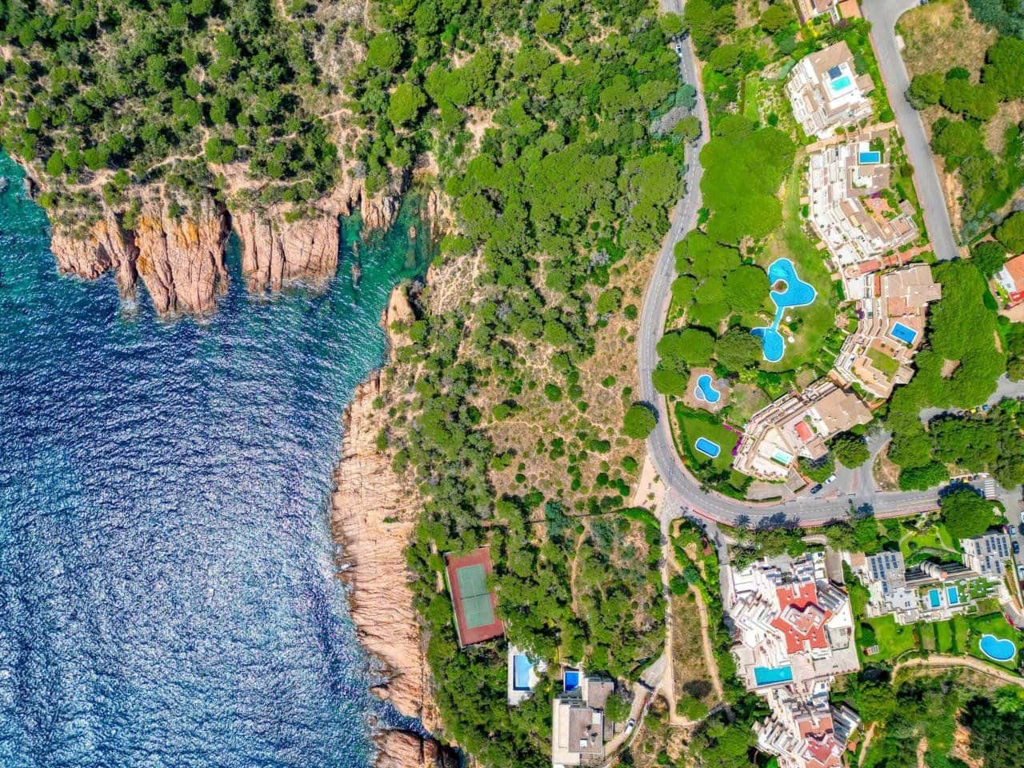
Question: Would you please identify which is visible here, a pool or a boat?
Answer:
pool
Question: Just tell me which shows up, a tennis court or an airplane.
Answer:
tennis court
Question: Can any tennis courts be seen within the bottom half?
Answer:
Yes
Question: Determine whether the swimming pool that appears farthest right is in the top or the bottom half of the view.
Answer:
bottom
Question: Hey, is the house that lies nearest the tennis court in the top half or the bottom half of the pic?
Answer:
bottom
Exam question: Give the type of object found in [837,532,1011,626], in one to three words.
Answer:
building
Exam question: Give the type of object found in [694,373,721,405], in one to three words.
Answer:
swimming pool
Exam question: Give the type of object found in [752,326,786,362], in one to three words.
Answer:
swimming pool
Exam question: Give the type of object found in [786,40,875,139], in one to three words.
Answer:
house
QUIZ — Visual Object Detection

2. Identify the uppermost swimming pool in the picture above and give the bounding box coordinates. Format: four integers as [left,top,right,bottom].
[830,74,852,92]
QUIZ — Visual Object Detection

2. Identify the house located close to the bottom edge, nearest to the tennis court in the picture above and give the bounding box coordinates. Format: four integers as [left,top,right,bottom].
[552,664,614,768]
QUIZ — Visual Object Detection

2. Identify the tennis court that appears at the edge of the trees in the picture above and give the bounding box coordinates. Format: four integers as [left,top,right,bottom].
[446,548,504,646]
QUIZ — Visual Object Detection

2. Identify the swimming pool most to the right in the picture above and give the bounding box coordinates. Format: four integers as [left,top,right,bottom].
[978,633,1016,661]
